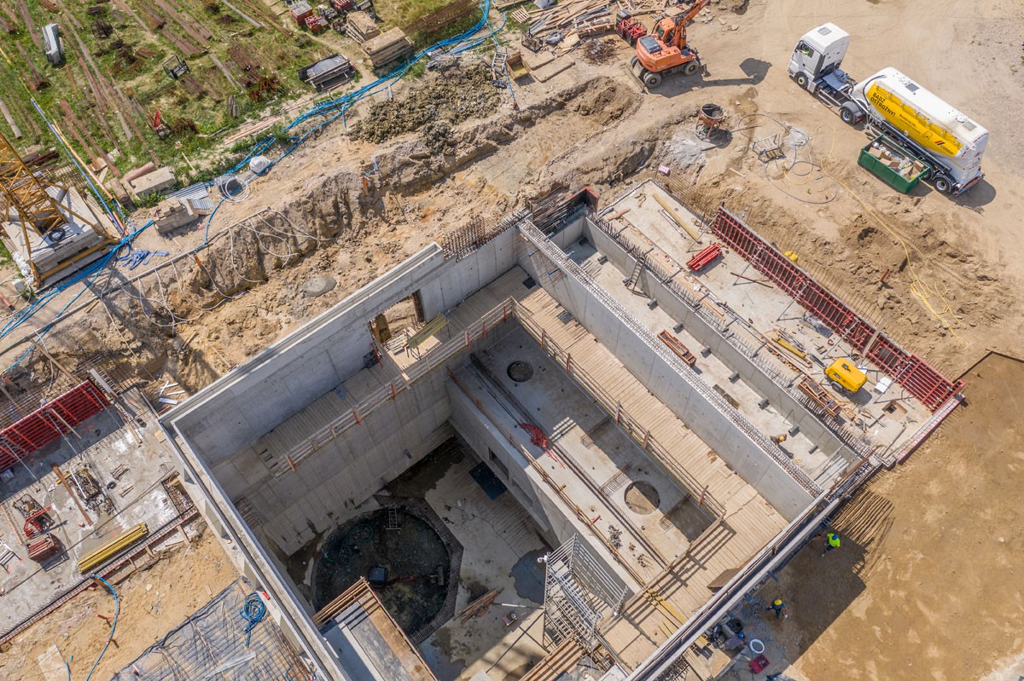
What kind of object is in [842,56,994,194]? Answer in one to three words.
trailer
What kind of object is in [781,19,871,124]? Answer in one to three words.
vehicle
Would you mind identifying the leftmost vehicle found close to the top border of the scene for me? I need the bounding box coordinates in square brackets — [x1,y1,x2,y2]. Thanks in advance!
[616,0,708,100]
